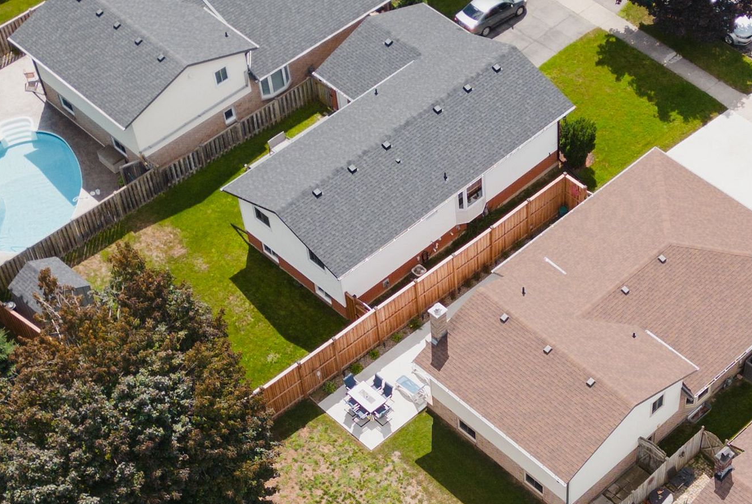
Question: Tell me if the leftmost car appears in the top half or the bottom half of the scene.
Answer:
top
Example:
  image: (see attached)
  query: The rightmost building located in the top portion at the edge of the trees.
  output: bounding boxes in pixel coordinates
[218,3,580,318]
